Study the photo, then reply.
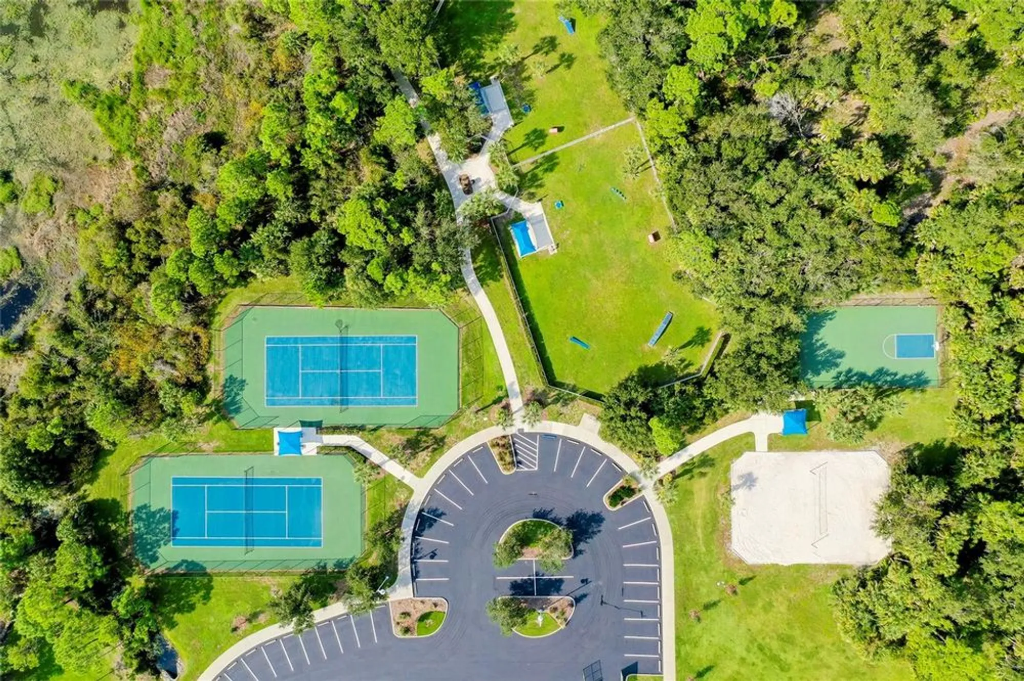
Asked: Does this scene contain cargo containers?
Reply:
No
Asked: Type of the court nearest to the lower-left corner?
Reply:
tennis court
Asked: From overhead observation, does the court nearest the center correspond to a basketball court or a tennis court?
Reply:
tennis court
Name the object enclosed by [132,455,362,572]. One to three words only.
tennis court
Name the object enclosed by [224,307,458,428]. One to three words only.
tennis court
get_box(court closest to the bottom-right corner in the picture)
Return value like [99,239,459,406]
[730,450,891,566]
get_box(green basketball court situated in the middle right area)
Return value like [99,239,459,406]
[797,306,939,388]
